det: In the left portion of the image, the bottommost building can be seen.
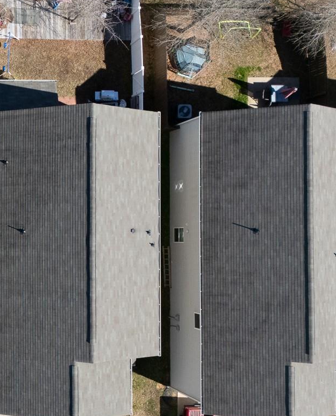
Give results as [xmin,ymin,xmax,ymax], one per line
[0,79,163,416]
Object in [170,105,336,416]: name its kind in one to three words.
house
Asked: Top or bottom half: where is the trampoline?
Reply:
top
